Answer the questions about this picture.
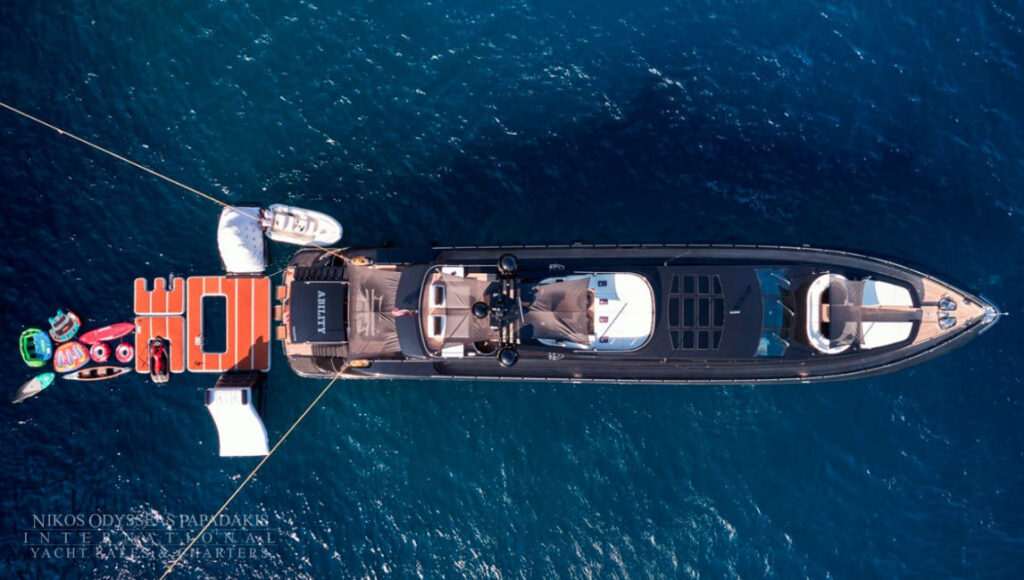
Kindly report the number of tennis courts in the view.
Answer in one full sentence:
There are no tennis courts in this view.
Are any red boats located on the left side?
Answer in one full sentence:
Yes, a red boat can be seen on the left side.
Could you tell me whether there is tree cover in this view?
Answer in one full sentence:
No, the picture contains no tree cover.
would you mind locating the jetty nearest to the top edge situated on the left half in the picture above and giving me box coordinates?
[135,277,187,315]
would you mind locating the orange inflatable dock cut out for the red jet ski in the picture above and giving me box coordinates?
[135,317,186,372]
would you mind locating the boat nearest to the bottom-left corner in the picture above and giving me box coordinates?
[61,366,133,380]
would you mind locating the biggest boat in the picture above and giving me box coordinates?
[274,245,1007,385]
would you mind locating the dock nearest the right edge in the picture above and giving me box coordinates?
[188,276,272,372]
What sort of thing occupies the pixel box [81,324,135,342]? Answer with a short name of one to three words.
boat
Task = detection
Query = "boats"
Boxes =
[258,204,340,246]
[274,245,1007,385]
[81,324,135,342]
[149,338,172,383]
[61,366,133,380]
